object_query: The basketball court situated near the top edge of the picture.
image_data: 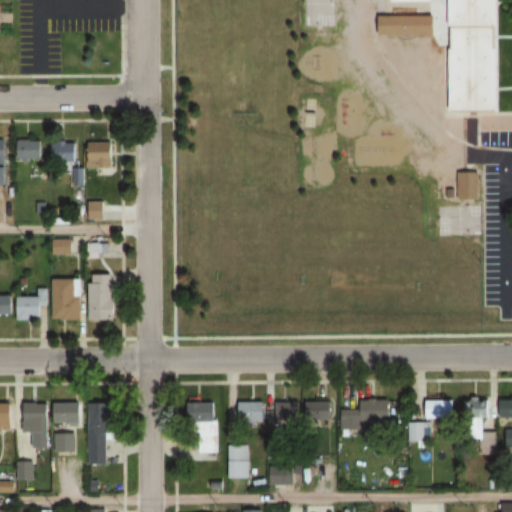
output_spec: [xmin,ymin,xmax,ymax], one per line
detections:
[306,0,336,27]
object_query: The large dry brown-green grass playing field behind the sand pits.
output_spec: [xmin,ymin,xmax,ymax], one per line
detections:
[178,0,482,336]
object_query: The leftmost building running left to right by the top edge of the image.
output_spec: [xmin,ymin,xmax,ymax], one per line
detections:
[378,14,432,36]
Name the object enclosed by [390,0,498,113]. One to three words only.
building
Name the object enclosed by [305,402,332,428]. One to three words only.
house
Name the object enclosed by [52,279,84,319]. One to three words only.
house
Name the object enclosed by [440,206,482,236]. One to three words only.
basketball court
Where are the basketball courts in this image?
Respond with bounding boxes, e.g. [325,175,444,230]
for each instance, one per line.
[440,206,482,236]
[306,0,336,27]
